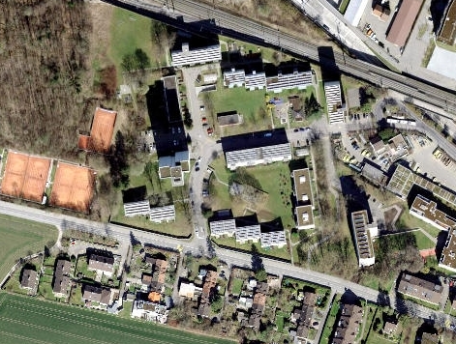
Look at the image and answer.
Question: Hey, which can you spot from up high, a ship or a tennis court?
tennis court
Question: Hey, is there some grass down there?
Yes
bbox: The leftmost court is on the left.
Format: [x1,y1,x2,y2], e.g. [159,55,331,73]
[0,152,51,203]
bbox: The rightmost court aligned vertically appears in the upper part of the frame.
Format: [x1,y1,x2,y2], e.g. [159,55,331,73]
[91,109,117,153]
